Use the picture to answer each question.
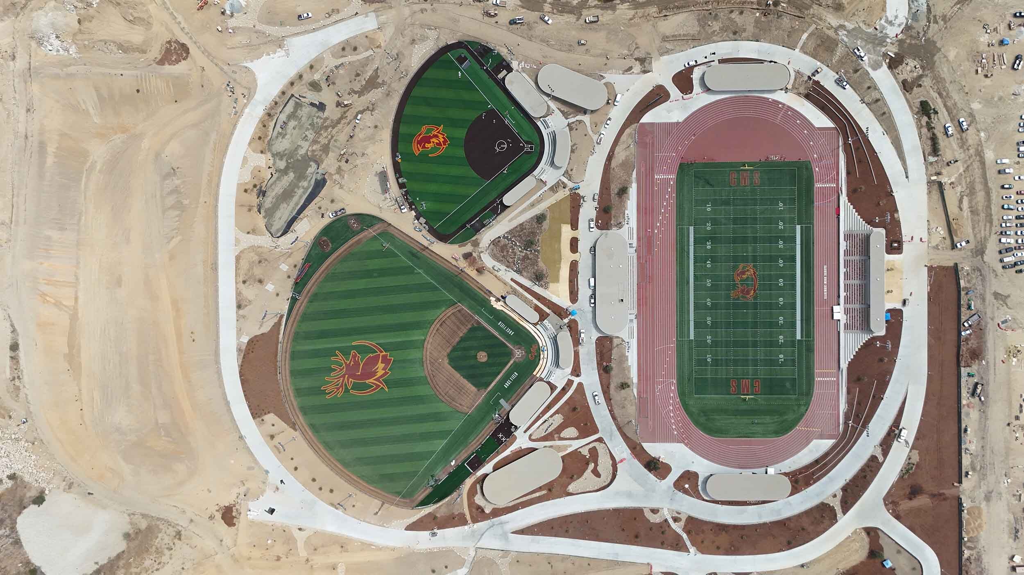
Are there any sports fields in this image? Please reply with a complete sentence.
Yes, I can see a sports field in this picture.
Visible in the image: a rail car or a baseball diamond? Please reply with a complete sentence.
Of the two, only a baseball diamond appears.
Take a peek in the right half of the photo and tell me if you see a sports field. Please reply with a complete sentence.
Yes, a sports field shows up in the right half of the photo.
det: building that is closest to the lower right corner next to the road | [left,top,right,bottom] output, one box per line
[706,473,791,501]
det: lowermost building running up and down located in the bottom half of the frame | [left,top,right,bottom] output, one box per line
[557,331,574,370]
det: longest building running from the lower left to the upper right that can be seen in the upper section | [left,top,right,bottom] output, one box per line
[503,176,536,206]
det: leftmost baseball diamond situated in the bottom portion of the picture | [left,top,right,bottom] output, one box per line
[289,227,538,504]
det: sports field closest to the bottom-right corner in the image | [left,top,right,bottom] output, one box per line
[677,161,814,438]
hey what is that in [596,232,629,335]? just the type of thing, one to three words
building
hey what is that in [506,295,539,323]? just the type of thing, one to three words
building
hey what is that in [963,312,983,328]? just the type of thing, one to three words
vehicle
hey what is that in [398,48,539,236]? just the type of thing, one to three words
baseball field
